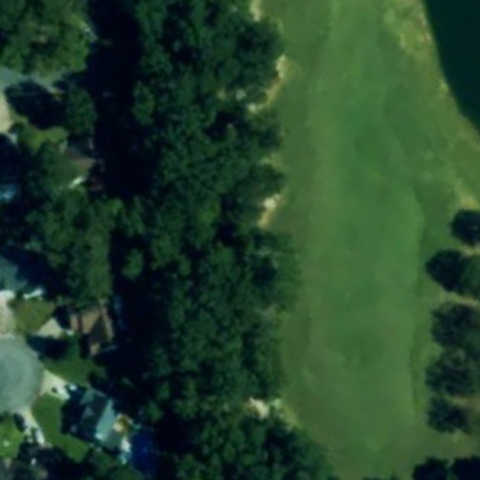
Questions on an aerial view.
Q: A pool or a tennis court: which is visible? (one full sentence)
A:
There is a pool in the scene.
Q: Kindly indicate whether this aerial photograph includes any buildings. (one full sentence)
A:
Yes, I can see a building in this picture.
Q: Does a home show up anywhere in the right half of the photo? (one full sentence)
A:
No, no home can be made out in the right half of the photo.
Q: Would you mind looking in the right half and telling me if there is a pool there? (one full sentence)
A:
No, there's no pool to be seen in the right half.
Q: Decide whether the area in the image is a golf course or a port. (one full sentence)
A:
The picture captures a golf course.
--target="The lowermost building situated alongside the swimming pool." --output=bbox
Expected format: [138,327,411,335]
[61,378,130,450]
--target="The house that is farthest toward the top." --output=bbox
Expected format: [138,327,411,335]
[61,139,101,185]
